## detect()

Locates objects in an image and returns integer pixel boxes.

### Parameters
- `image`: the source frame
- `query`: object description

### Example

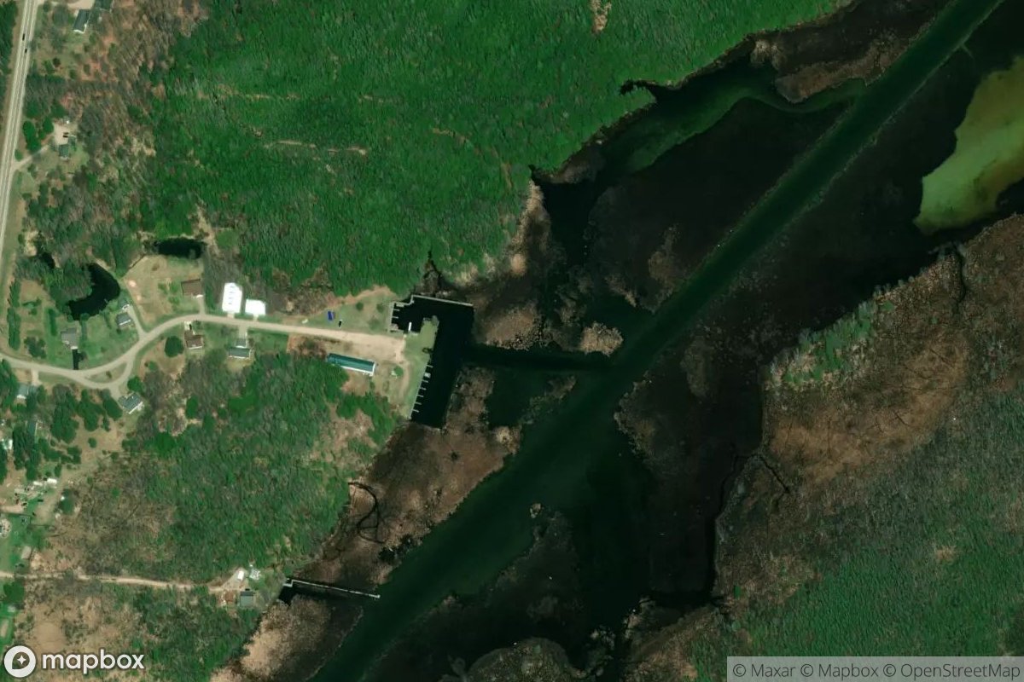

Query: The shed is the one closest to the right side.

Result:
[327,354,376,375]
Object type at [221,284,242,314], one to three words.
building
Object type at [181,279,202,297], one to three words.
house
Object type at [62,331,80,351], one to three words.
house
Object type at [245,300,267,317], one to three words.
building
